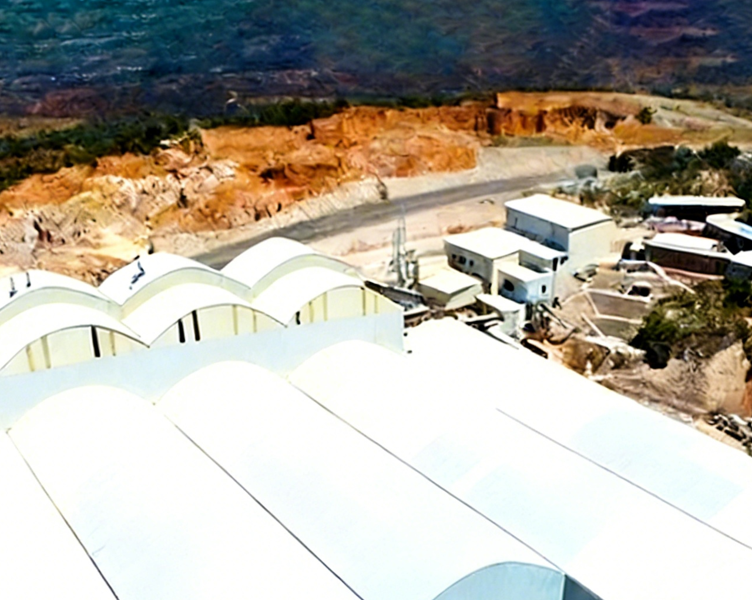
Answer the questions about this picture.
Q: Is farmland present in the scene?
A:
No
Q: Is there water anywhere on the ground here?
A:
Yes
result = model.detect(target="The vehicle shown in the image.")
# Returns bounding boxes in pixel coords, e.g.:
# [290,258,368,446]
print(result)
[632,281,650,294]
